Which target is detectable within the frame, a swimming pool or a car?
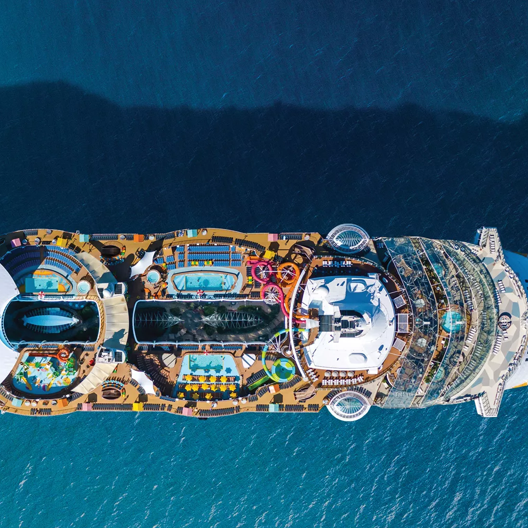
swimming pool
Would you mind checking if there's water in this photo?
Yes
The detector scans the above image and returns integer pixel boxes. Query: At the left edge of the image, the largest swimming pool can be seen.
[12,265,78,297]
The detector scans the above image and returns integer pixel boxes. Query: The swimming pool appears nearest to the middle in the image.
[164,268,245,295]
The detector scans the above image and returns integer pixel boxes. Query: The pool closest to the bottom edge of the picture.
[178,352,240,398]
